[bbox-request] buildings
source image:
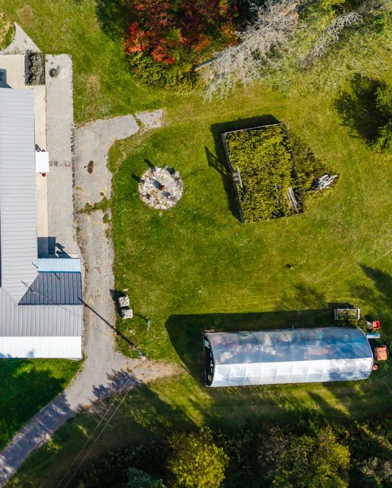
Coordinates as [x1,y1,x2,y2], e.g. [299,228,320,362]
[0,86,82,360]
[205,326,373,389]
